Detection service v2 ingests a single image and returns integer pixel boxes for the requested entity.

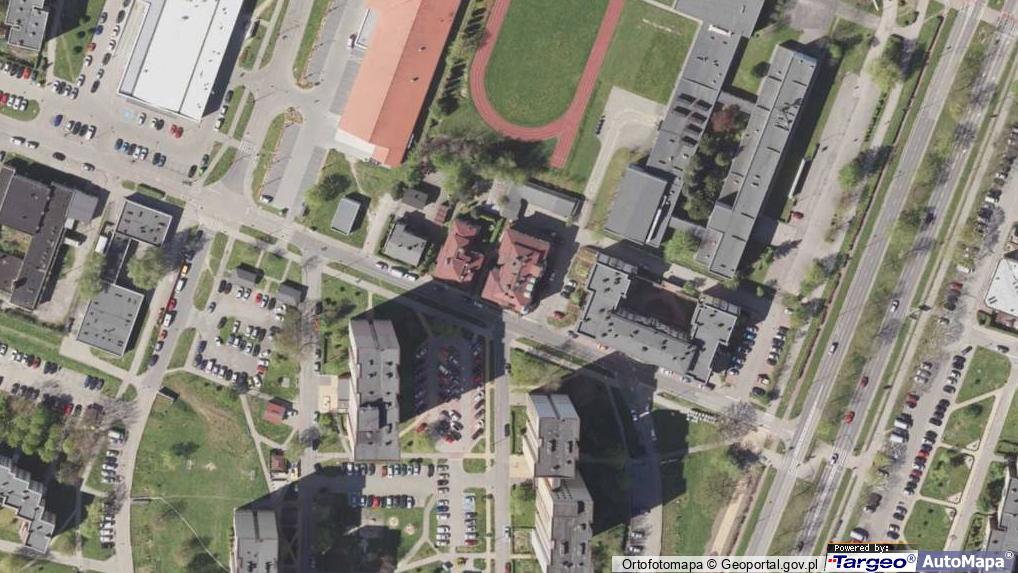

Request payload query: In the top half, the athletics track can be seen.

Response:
[468,0,624,169]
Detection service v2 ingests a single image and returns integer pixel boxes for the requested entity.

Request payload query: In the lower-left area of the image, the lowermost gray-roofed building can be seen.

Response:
[231,511,278,573]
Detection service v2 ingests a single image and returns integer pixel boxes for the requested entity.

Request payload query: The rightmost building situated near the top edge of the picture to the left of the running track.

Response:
[335,0,460,167]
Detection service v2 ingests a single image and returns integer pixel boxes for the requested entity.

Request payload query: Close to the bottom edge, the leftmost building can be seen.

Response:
[0,452,57,553]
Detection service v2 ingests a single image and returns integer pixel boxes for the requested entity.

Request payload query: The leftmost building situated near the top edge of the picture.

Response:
[6,0,50,51]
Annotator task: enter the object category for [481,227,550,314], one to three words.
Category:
house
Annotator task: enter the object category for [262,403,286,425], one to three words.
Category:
shed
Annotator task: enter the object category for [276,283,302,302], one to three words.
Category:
building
